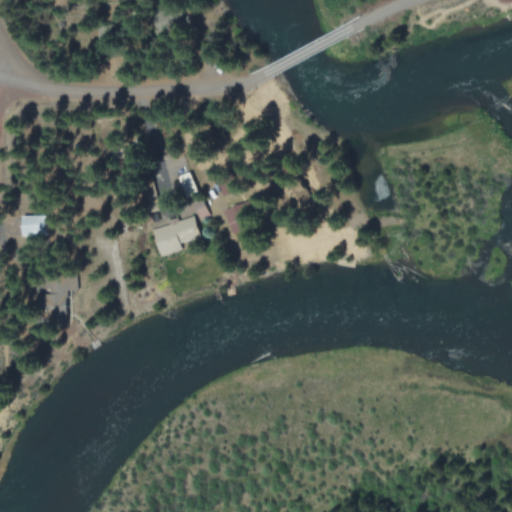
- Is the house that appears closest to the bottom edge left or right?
left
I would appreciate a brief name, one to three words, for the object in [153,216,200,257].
house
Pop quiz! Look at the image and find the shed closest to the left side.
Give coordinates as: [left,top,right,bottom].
[21,216,45,238]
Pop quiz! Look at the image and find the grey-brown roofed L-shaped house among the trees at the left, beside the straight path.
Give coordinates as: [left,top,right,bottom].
[49,276,78,322]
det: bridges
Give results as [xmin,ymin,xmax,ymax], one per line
[248,17,367,83]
